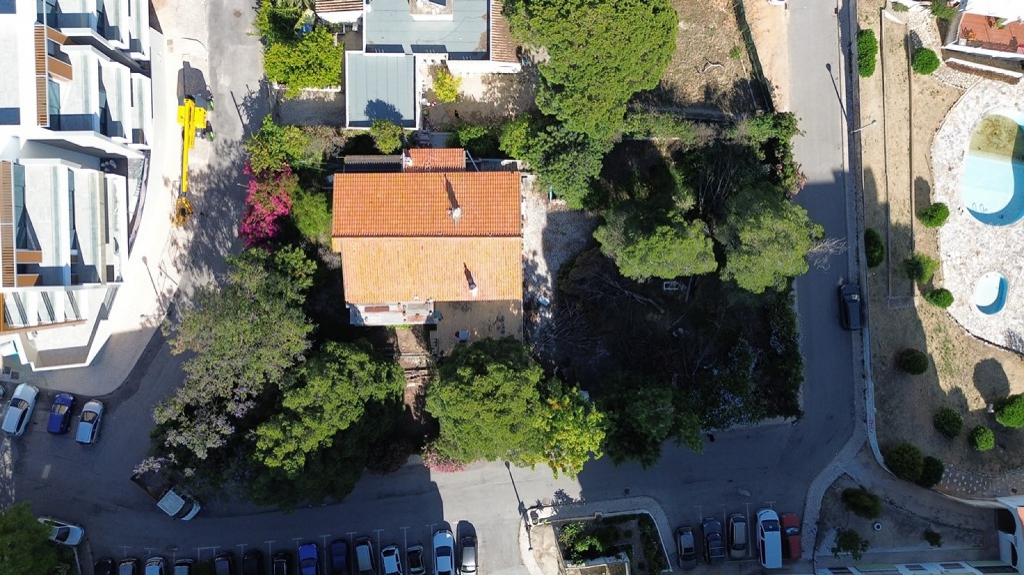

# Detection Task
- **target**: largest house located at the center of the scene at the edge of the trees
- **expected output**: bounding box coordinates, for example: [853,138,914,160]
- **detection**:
[331,170,523,303]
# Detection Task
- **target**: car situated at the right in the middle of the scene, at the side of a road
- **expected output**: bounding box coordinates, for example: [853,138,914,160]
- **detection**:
[835,283,865,331]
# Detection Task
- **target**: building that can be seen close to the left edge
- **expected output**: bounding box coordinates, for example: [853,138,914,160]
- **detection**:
[0,0,163,371]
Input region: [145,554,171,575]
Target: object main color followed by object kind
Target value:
blue car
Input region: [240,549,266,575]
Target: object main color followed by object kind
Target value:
black car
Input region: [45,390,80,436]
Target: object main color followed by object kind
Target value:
blue car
